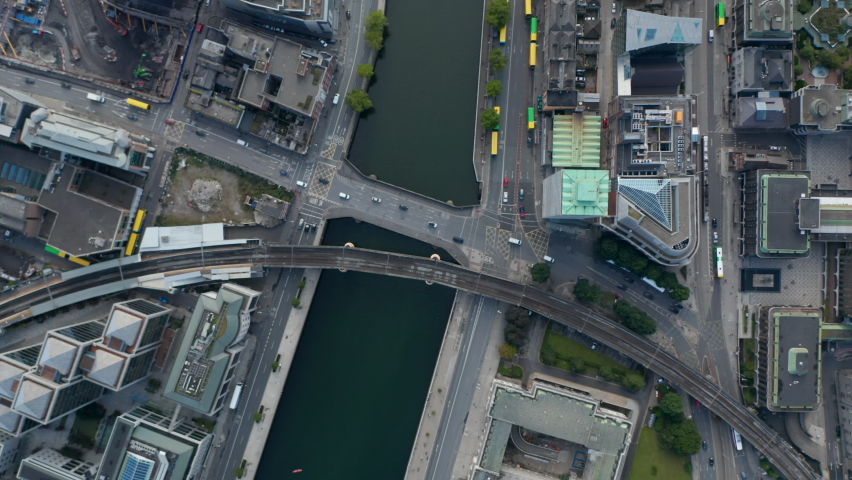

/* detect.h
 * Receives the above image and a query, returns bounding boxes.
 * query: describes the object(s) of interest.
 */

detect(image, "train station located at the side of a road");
[0,223,264,335]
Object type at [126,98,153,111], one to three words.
vehicle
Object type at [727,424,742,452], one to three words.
vehicle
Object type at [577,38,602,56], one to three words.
house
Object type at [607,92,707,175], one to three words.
building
